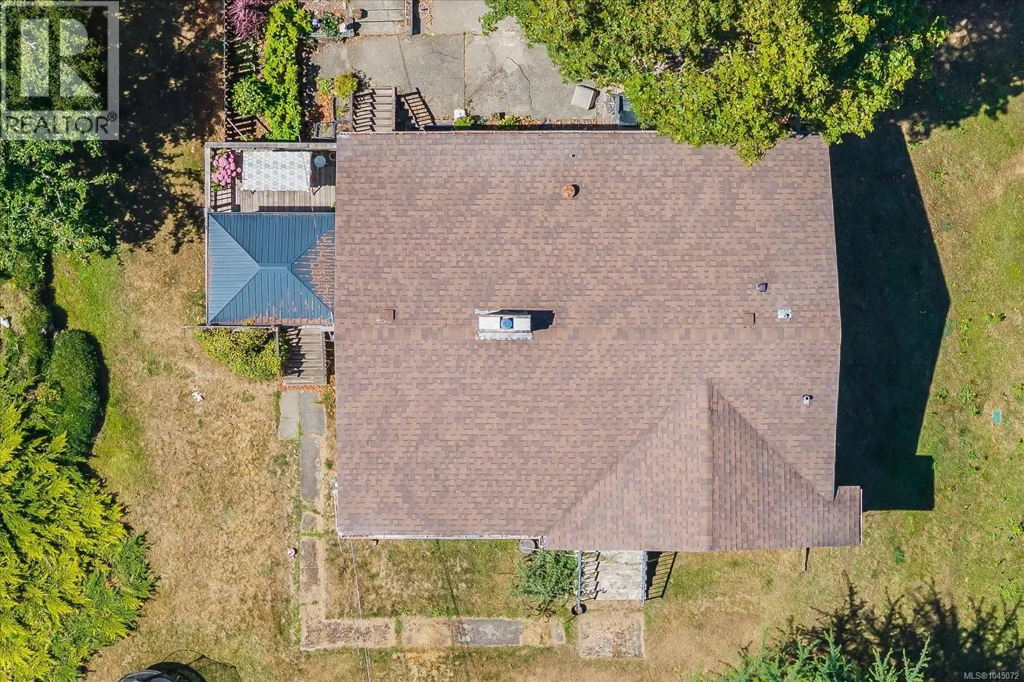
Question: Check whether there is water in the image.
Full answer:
No, no water is visible.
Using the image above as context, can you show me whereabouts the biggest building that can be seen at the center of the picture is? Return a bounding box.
[331,128,866,553]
